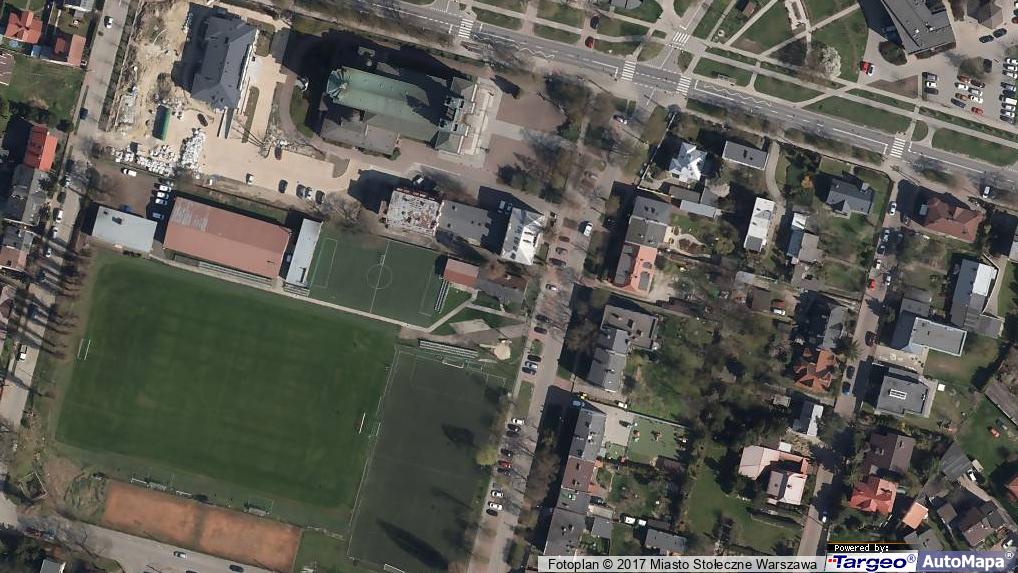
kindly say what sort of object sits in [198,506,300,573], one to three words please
sports court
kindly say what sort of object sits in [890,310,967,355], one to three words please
house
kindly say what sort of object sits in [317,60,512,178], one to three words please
building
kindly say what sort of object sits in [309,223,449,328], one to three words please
soccer field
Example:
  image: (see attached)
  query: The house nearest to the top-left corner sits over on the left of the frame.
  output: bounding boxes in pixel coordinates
[5,10,42,44]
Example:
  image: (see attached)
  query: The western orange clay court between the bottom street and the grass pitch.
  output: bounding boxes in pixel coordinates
[103,482,199,543]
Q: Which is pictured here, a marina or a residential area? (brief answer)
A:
residential area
